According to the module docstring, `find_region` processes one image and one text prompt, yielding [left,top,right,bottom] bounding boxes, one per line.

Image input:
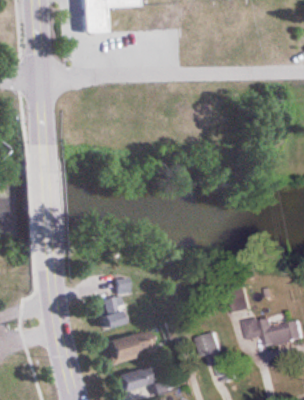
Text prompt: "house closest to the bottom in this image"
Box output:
[121,368,176,399]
